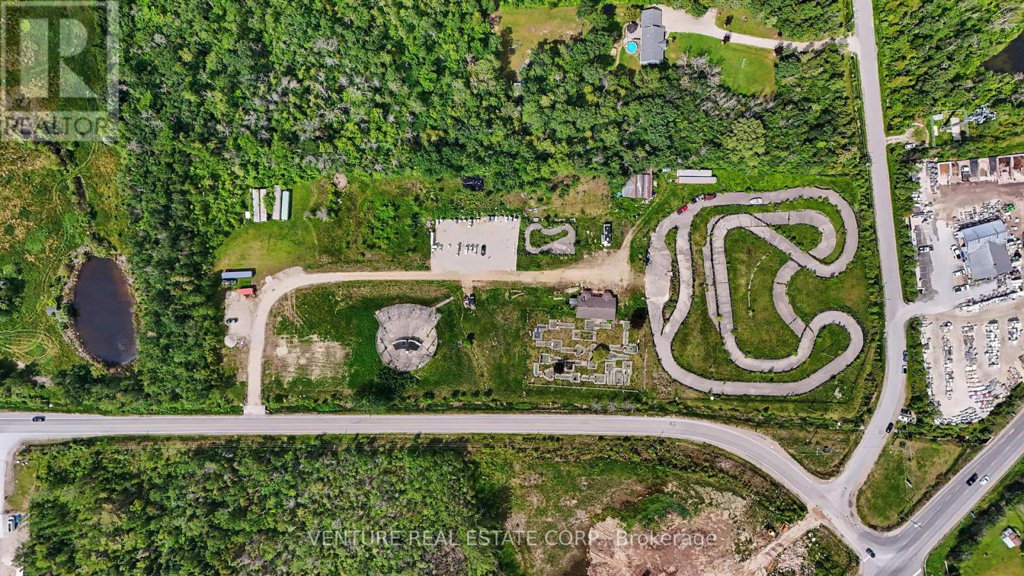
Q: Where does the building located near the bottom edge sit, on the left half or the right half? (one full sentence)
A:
The building located near the bottom edge appears in the right half of the scene.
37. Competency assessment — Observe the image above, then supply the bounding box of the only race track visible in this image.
[653,186,863,396]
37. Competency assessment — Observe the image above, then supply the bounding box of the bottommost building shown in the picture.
[995,524,1022,548]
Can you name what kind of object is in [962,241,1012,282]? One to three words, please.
building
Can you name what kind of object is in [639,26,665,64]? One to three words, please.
house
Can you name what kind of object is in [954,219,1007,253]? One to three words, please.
building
